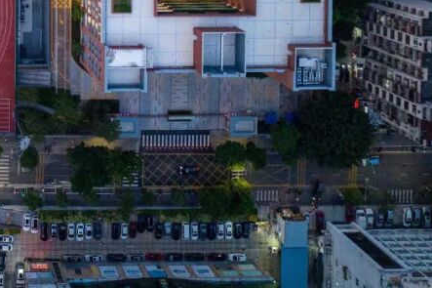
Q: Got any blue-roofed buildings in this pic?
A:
Yes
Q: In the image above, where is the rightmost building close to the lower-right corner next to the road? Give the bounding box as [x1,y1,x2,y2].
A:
[329,220,432,288]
